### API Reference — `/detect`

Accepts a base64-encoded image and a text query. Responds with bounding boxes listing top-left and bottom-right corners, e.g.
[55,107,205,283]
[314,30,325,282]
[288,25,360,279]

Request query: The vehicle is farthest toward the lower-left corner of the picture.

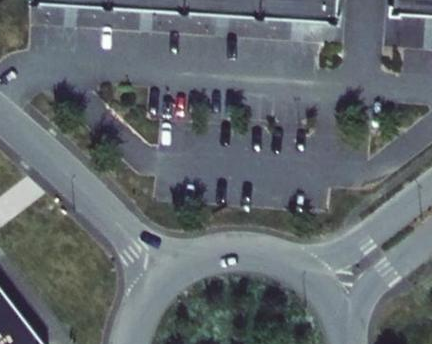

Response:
[138,231,162,248]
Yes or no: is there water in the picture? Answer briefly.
No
